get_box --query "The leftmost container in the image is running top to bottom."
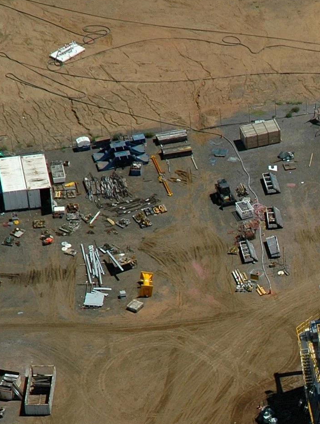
[0,155,29,210]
